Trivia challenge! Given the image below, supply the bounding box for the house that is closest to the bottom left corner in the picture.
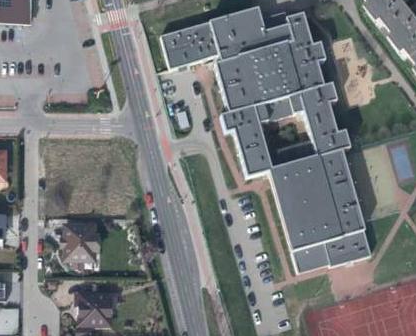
[0,307,19,336]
